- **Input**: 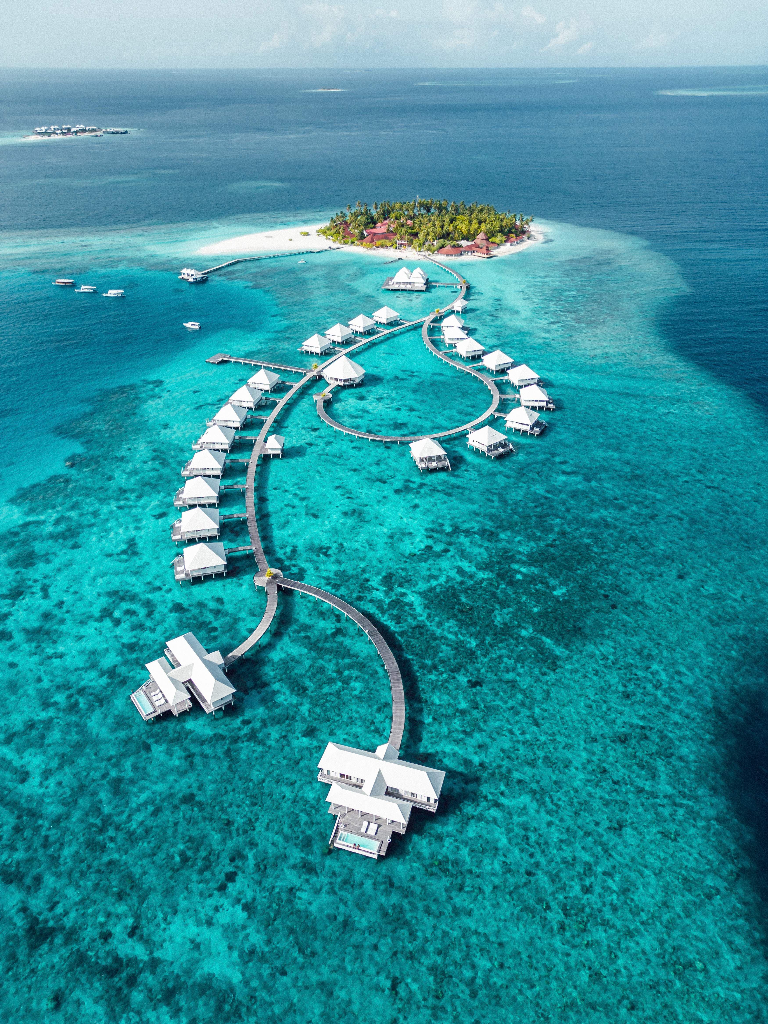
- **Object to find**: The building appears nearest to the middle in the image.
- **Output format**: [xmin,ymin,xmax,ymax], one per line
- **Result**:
[409,437,454,480]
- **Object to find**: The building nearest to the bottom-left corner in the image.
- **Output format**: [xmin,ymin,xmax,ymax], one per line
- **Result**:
[168,542,230,593]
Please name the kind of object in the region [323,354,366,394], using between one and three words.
building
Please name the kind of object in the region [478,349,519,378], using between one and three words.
house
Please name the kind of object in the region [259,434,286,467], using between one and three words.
shed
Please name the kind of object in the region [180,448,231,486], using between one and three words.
house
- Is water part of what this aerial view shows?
Yes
